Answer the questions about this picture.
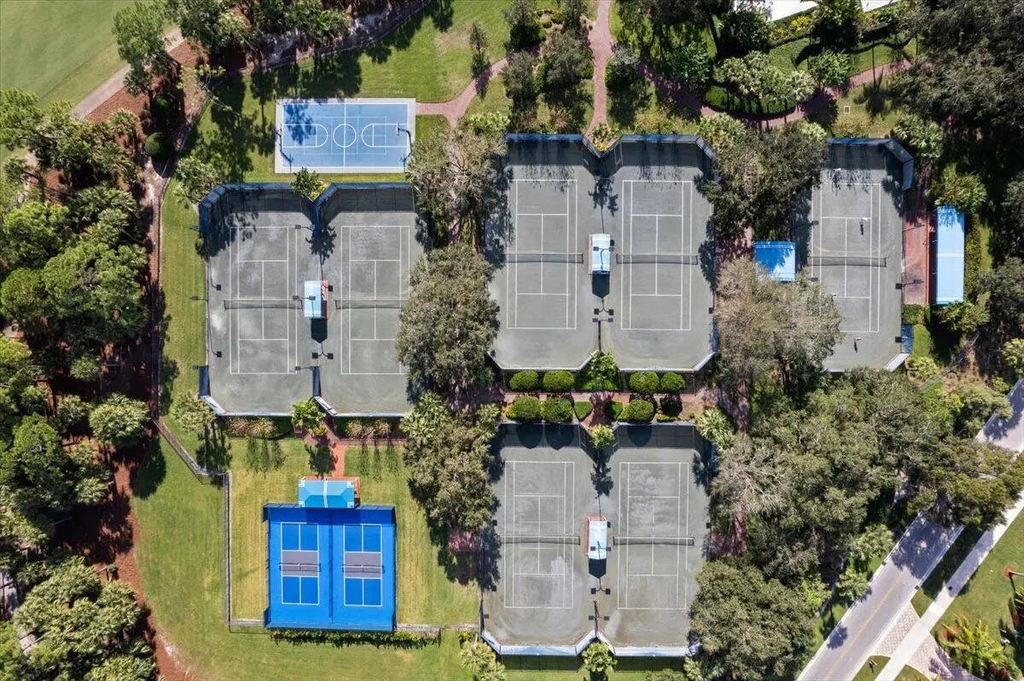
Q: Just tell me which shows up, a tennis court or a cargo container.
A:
tennis court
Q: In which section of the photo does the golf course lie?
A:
top left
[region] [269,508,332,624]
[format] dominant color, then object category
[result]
blue sports court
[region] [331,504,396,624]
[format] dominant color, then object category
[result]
blue sports court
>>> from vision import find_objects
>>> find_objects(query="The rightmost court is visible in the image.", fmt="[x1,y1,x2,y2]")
[790,144,904,370]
